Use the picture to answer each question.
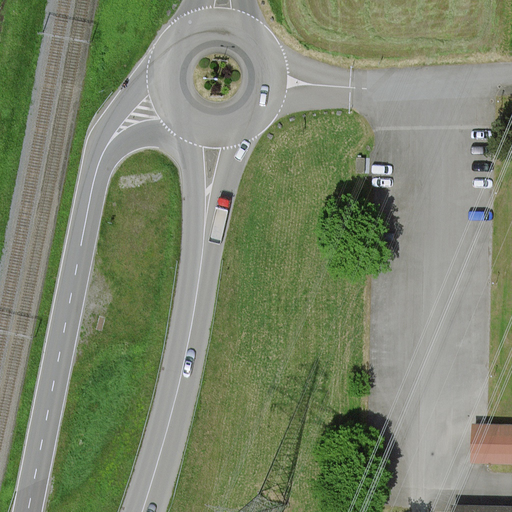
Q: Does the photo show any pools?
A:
No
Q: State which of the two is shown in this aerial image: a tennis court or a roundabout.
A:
roundabout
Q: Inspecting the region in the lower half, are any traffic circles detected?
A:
No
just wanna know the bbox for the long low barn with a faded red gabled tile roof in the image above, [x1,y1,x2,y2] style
[470,423,512,464]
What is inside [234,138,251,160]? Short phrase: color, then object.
white vehicle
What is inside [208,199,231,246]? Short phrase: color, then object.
white truck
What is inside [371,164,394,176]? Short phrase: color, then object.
white vehicle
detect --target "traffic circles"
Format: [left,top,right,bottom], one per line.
[146,7,288,149]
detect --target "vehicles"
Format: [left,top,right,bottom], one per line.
[234,138,251,160]
[144,502,156,512]
[470,130,492,140]
[473,178,494,188]
[258,84,270,107]
[371,164,394,176]
[470,145,492,156]
[468,209,494,220]
[208,199,231,246]
[372,176,394,188]
[472,161,494,172]
[183,349,196,377]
